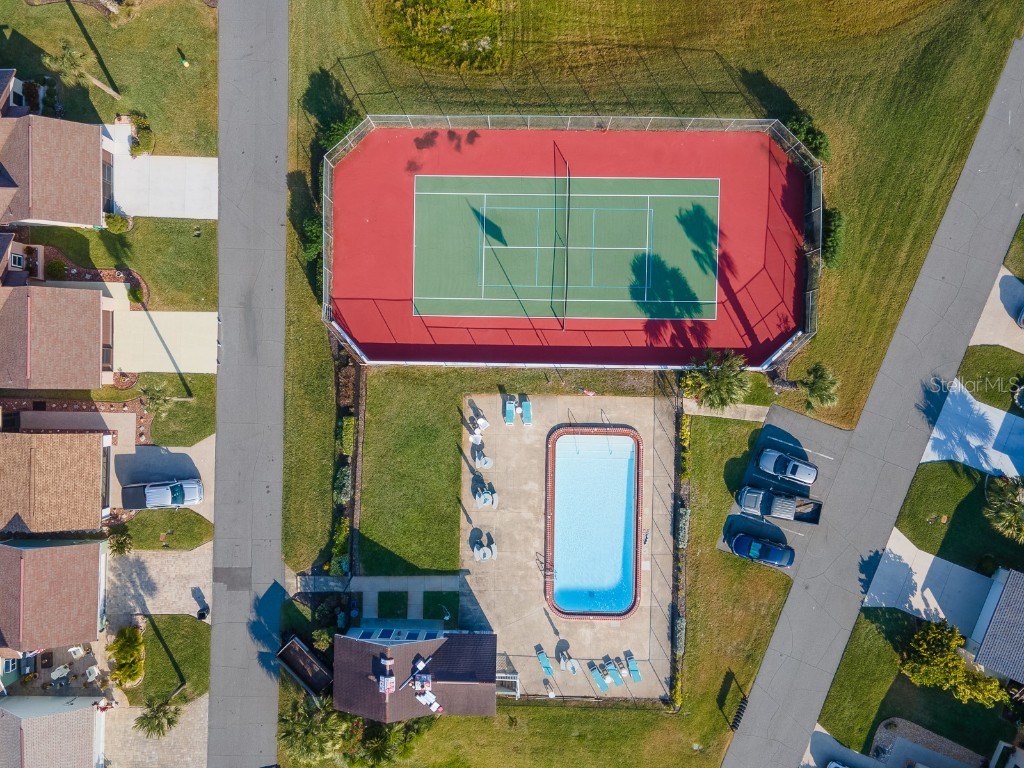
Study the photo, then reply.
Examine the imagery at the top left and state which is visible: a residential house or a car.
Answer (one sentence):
The one visible at the top left is a residential house.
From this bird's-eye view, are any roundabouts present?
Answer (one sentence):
No, no roundabout is visible in the scene.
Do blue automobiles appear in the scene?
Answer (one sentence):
Yes, a blue automobile can be made out from above.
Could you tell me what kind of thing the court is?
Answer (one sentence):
I'd identify the court as a tennis court.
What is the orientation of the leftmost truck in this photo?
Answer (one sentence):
From this overhead view, the leftmost truck appears to run from left to right.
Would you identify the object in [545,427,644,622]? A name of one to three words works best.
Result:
swimming pool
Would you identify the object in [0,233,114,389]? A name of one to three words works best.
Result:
house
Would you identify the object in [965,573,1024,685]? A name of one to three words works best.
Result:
house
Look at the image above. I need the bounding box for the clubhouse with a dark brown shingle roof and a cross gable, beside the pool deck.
[334,628,497,722]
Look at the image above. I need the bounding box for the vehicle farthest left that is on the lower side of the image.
[121,477,204,510]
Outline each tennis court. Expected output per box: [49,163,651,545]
[331,128,806,363]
